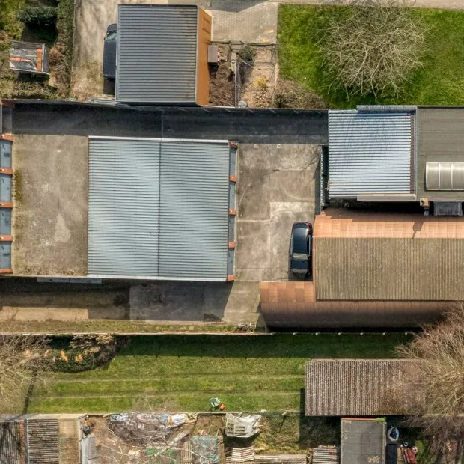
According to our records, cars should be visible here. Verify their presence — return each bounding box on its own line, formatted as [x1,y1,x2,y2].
[286,223,310,278]
[98,24,117,79]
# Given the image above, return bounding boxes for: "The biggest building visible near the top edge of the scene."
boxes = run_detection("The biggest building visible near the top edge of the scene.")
[114,4,212,104]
